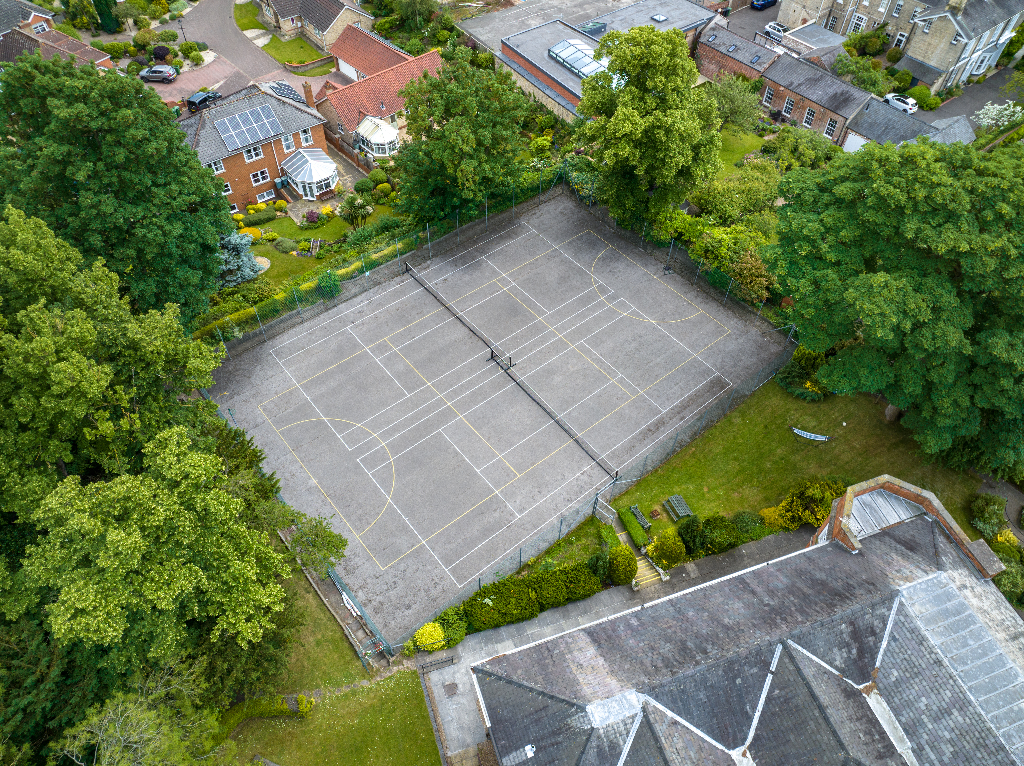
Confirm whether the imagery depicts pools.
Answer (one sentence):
No, there appears to be no pool in this shot.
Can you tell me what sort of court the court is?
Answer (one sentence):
Specifically, the court is a tennis court.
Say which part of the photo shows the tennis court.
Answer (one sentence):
Look in the center portion of the view to spot the tennis court.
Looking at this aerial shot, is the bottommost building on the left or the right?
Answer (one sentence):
It is on the right.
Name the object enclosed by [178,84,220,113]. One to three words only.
car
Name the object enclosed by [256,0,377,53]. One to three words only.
house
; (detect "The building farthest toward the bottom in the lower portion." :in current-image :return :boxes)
[467,474,1024,766]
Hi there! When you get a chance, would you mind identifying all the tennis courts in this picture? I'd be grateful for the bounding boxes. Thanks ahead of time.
[200,192,794,662]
